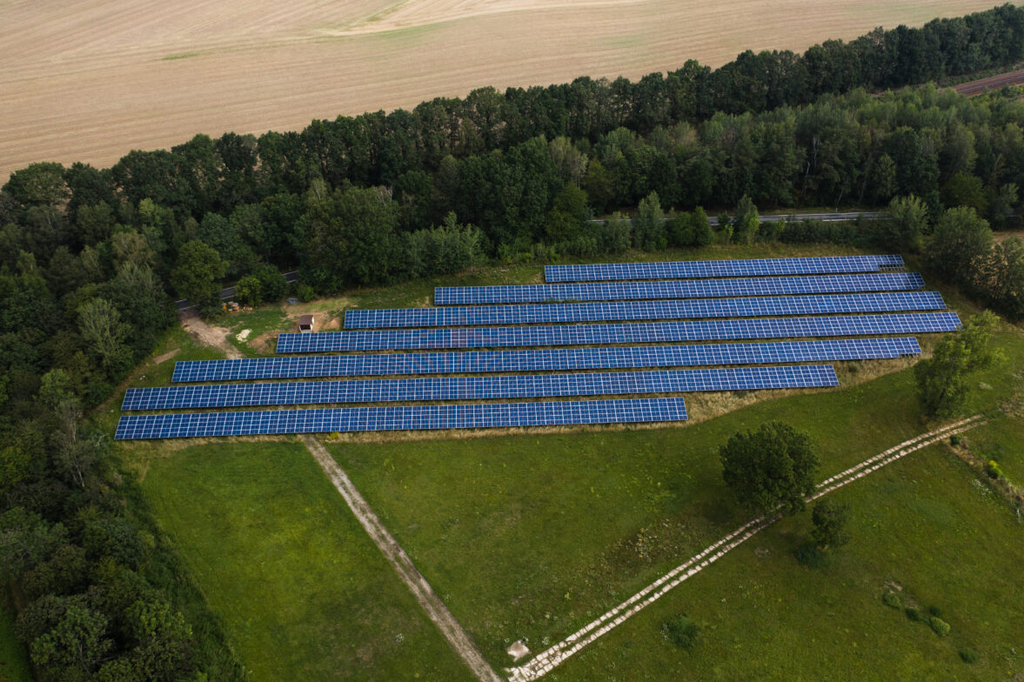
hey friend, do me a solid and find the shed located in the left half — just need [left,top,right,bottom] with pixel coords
[296,312,314,332]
